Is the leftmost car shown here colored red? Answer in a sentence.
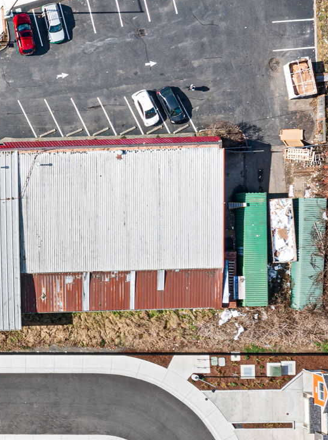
Yes, red is the color of the leftmost car.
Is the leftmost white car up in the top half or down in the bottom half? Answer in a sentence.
It is in the top half that the leftmost white car appears.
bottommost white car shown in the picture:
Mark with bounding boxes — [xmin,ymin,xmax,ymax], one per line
[132,88,160,128]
